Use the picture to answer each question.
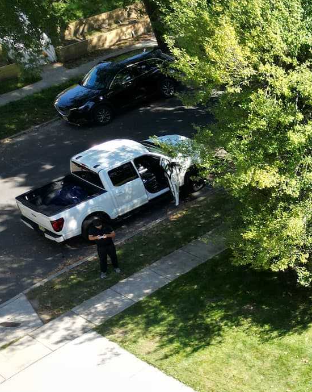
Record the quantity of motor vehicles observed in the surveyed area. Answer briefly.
2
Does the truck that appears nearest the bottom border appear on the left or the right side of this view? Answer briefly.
left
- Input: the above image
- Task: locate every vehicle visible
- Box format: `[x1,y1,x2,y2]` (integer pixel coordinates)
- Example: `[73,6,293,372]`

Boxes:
[52,44,183,123]
[4,132,213,243]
